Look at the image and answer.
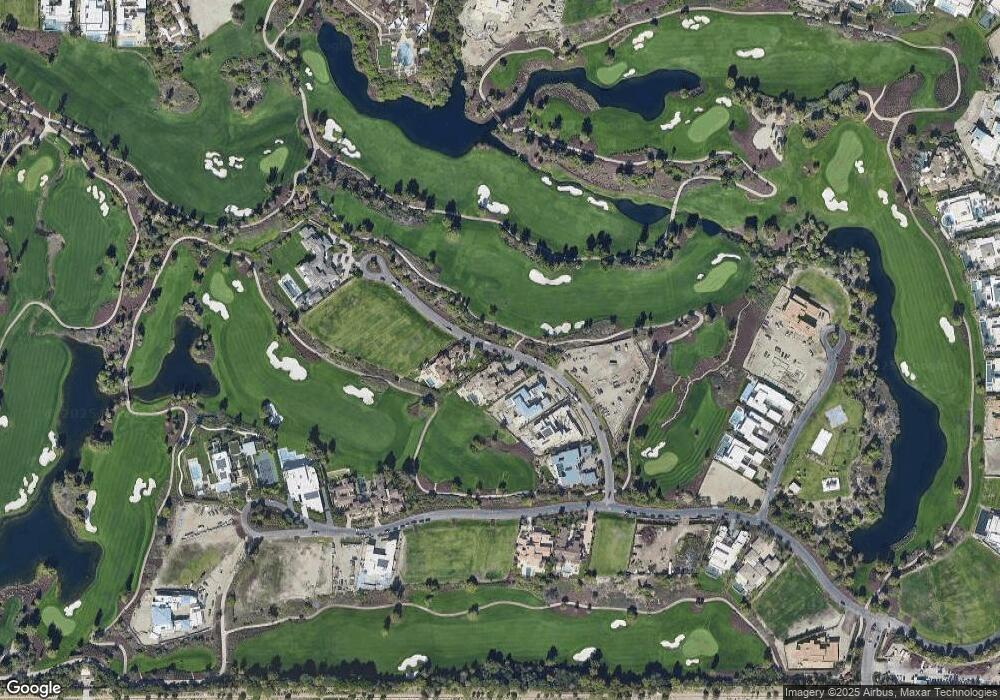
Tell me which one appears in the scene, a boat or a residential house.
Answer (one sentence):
The image shows a residential house.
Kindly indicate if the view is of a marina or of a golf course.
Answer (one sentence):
What you see here is a golf course.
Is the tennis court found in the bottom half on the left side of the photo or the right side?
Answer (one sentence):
It is on the left.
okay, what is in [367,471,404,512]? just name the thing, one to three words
house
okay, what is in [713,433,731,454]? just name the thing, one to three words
swimming pool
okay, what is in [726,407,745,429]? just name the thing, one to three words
swimming pool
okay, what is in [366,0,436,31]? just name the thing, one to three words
house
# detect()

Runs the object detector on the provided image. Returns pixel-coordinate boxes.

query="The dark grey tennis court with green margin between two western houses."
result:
[256,449,279,485]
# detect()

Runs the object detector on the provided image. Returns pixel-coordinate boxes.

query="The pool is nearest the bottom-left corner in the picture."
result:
[189,462,203,486]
